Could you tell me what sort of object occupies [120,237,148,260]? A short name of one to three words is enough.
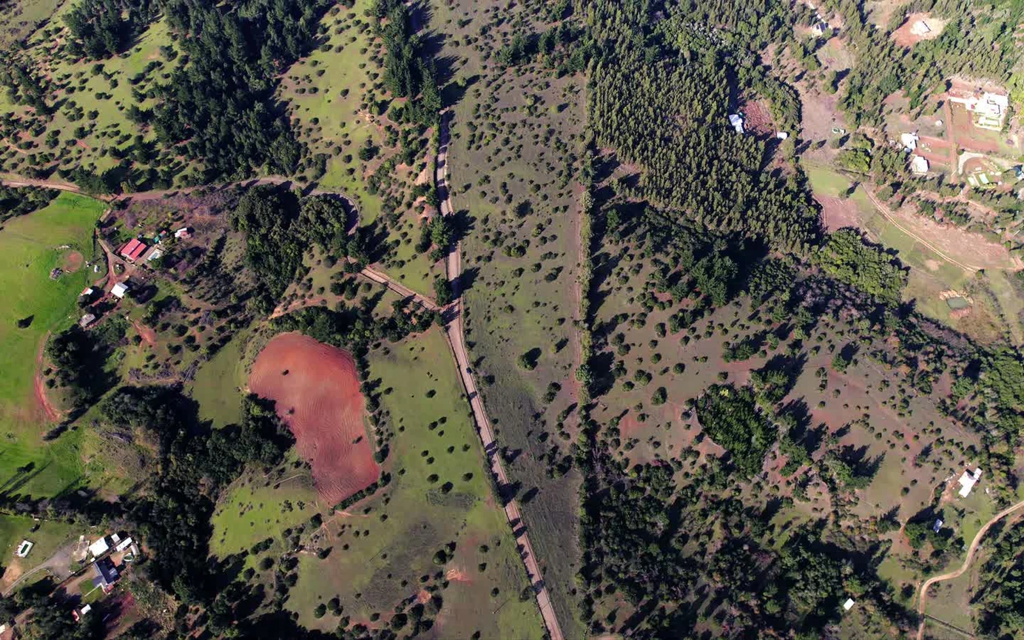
house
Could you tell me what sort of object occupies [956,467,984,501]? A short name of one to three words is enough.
house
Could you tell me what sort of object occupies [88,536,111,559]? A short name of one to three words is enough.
barn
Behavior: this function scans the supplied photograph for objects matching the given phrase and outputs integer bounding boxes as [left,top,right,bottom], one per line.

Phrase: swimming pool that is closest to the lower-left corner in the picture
[19,540,35,557]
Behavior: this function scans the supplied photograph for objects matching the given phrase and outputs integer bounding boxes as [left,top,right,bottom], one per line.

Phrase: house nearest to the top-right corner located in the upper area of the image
[964,93,1010,129]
